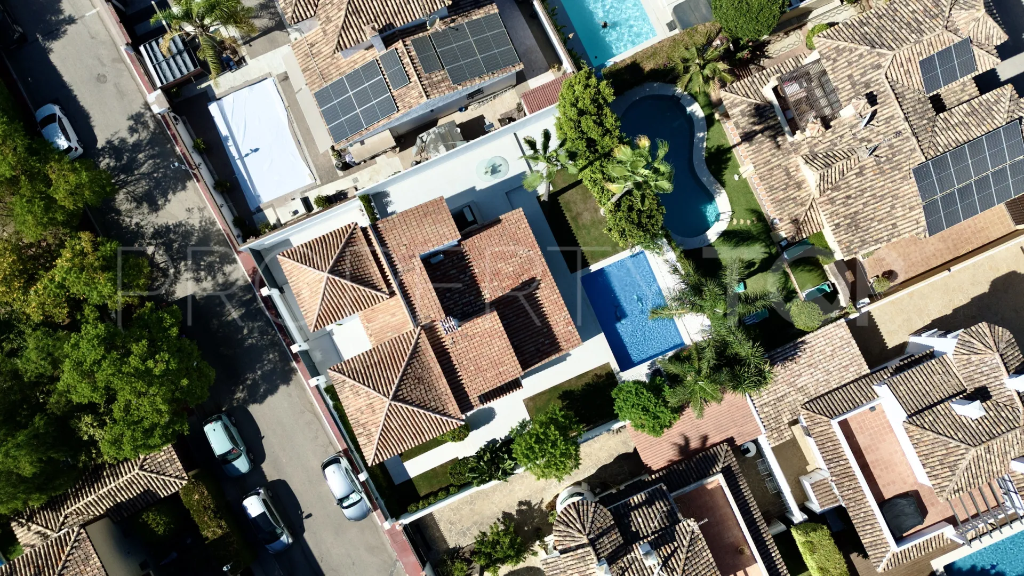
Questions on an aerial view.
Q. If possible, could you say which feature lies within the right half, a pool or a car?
pool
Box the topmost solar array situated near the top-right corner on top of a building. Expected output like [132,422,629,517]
[918,38,976,94]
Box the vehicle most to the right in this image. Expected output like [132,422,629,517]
[321,444,373,515]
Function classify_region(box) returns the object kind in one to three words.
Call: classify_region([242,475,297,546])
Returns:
car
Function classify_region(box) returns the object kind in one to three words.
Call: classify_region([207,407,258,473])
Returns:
car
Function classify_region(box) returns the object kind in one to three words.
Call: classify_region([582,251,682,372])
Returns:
swimming pool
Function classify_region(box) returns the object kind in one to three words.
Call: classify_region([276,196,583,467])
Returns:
house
